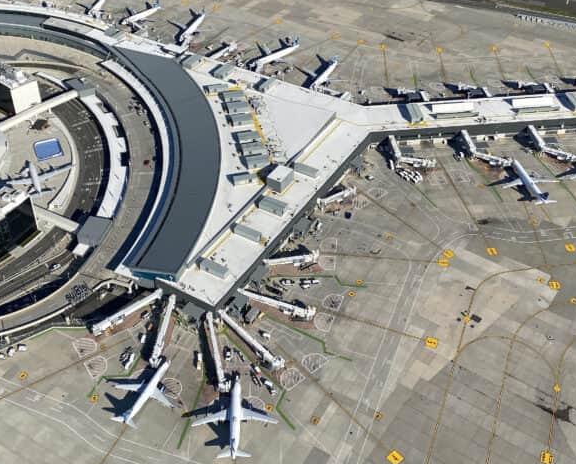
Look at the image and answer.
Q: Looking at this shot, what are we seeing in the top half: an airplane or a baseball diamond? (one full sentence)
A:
You can see an airplane in the top half.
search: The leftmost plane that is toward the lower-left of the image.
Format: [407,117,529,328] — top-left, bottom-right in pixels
[113,363,178,429]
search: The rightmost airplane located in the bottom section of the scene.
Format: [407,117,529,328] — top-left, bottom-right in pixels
[193,377,277,460]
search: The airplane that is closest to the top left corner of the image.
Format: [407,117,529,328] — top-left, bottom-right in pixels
[83,0,115,12]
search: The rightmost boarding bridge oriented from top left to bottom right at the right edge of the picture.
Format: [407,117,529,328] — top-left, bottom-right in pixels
[528,128,576,168]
